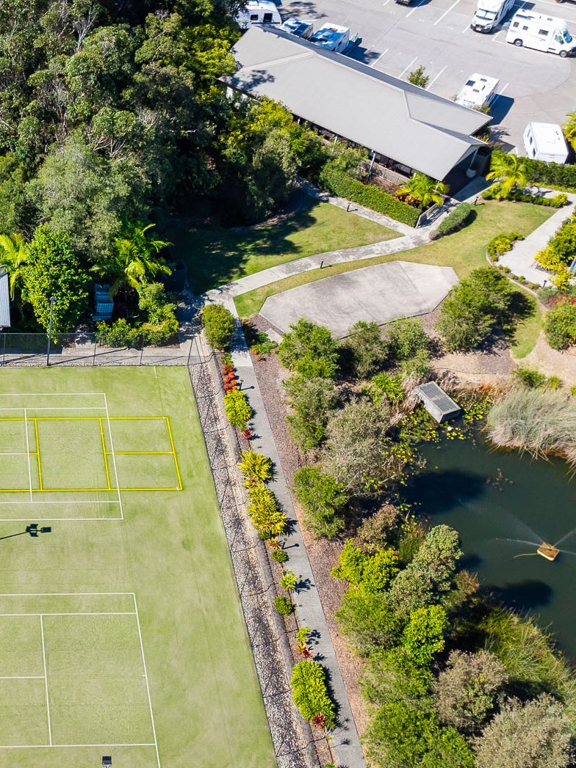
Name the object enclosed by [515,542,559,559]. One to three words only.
fountain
